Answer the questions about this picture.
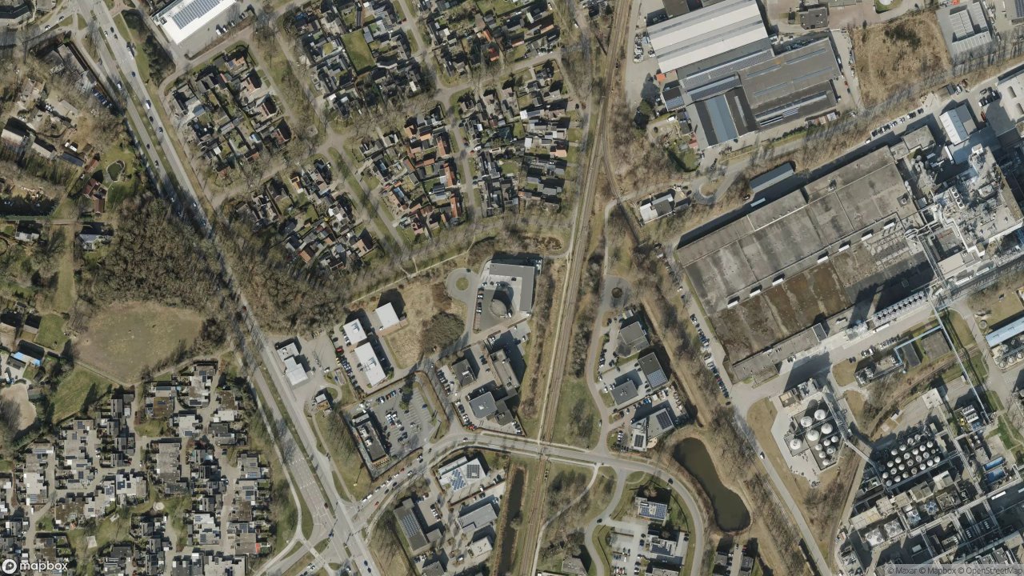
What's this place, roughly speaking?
residential area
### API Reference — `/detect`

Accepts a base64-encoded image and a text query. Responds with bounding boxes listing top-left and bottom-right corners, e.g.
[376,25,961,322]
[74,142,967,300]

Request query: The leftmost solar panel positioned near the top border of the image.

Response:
[173,0,222,29]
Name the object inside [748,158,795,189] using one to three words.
building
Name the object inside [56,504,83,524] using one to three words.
house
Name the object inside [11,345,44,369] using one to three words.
house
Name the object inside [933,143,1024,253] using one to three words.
building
